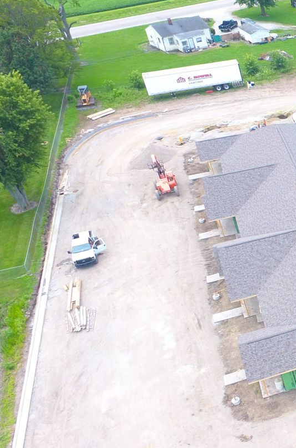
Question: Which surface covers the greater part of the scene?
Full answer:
The scene is dominated by paved ground.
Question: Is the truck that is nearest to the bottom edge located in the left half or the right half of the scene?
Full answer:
The truck that is nearest to the bottom edge appears in the left half of the scene.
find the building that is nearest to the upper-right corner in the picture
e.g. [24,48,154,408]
[236,16,270,44]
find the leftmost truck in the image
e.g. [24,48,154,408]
[68,226,106,269]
